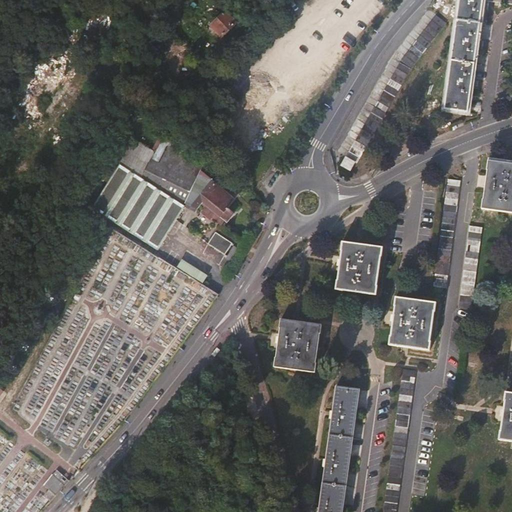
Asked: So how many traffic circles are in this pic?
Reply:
1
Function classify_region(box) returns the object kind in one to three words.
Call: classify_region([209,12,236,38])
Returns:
house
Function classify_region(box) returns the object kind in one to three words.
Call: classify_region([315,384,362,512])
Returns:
building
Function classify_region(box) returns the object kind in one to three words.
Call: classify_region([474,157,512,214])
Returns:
building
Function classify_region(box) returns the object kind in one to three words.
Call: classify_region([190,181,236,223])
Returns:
house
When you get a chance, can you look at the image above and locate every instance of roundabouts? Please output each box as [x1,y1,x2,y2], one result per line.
[272,147,369,253]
